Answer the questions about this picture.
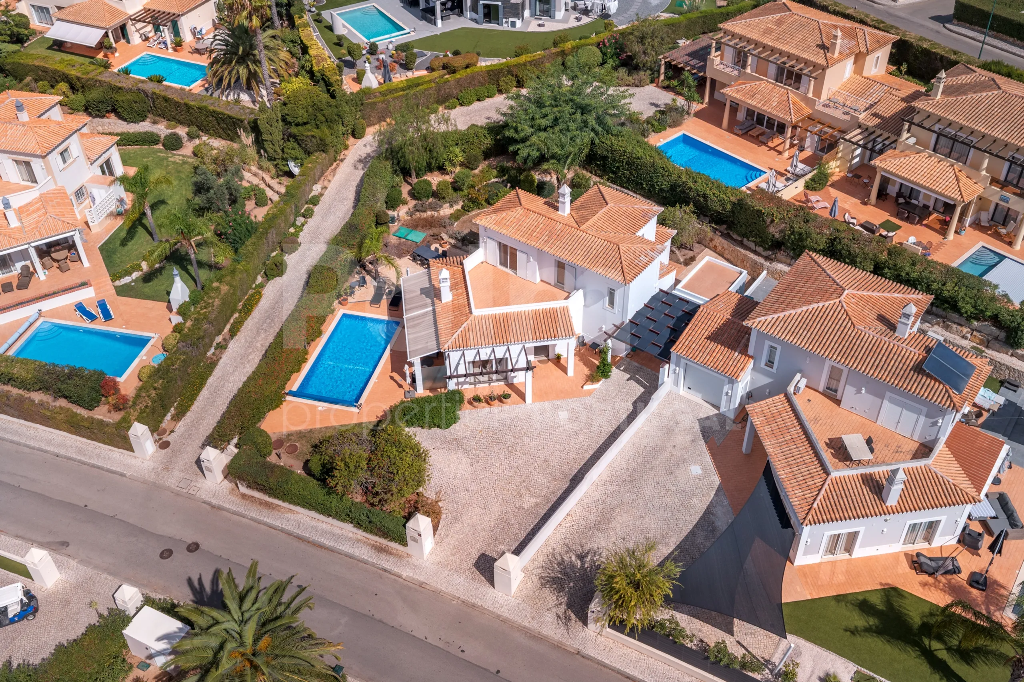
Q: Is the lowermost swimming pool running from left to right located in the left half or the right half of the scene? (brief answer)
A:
left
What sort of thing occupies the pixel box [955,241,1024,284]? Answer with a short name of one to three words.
swimming pool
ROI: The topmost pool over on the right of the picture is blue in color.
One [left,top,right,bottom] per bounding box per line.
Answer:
[645,130,770,195]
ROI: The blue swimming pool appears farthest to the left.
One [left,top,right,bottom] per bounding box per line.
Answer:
[3,316,159,381]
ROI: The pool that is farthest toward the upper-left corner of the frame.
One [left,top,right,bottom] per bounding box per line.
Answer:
[113,51,217,88]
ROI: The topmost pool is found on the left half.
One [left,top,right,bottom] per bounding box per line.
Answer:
[342,2,415,45]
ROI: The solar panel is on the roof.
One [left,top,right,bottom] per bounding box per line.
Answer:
[922,341,977,400]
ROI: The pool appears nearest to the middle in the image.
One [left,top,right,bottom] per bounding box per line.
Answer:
[287,309,404,412]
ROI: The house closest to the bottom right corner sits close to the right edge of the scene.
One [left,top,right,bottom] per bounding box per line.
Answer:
[669,248,1010,566]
